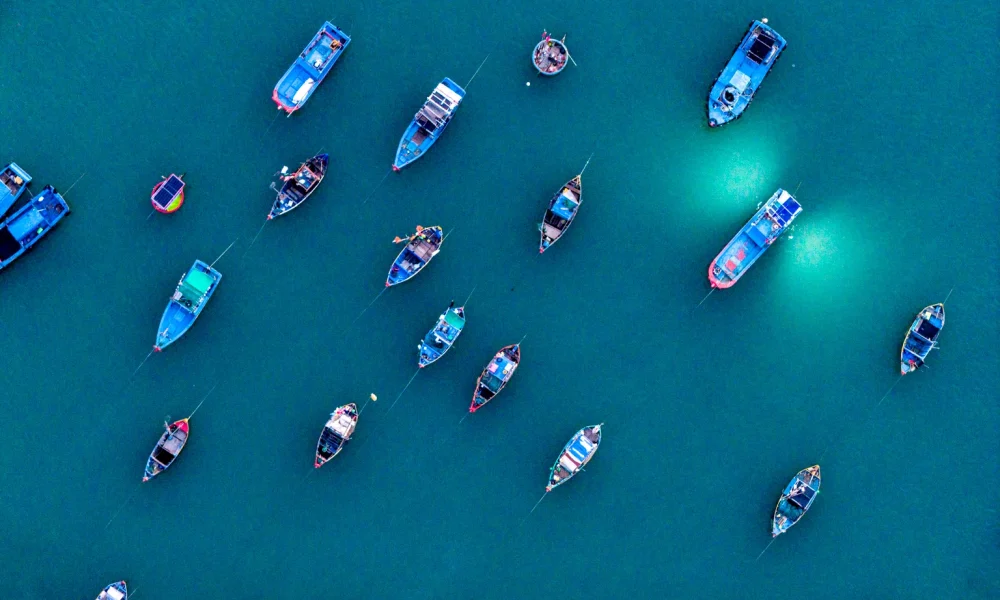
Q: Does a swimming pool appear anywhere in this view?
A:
No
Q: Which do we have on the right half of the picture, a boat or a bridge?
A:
boat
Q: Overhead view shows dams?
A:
No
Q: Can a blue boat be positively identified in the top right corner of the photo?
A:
Yes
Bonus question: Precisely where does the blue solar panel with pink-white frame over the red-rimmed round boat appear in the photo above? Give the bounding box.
[151,174,188,209]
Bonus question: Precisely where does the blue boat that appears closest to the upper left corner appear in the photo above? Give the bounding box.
[0,163,32,222]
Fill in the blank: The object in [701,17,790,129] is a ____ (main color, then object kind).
blue boat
